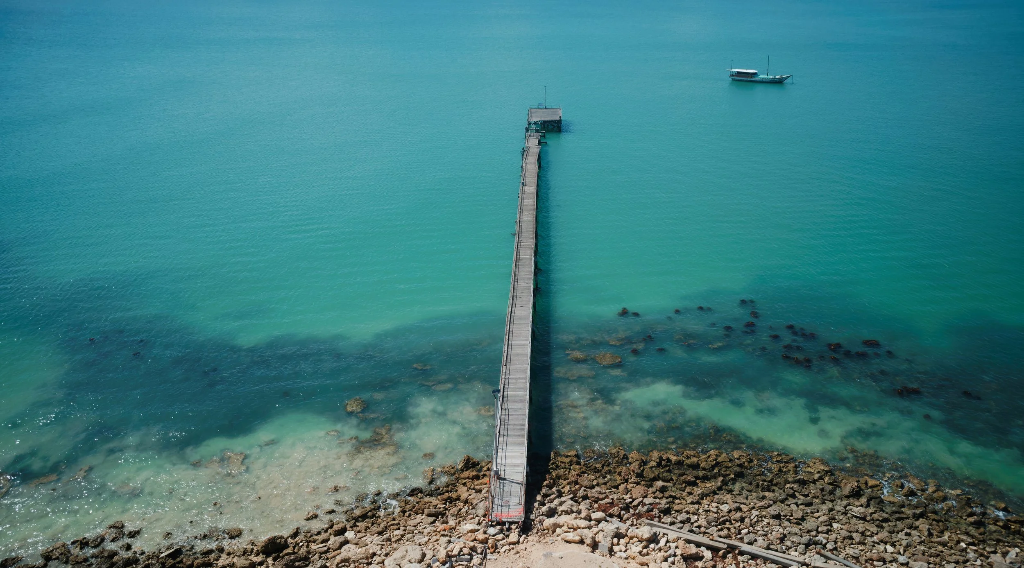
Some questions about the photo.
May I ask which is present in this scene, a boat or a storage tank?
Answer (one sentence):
I can see a boat in this picture.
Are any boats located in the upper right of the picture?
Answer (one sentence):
Yes, looking in the upper right of the picture, one can make out a boat.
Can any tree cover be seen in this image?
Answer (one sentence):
No, no tree cover is visible.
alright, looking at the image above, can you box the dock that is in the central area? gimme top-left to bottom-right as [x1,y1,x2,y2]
[489,144,546,529]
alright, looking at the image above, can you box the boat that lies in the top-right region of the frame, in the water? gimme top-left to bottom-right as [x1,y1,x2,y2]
[726,56,794,84]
